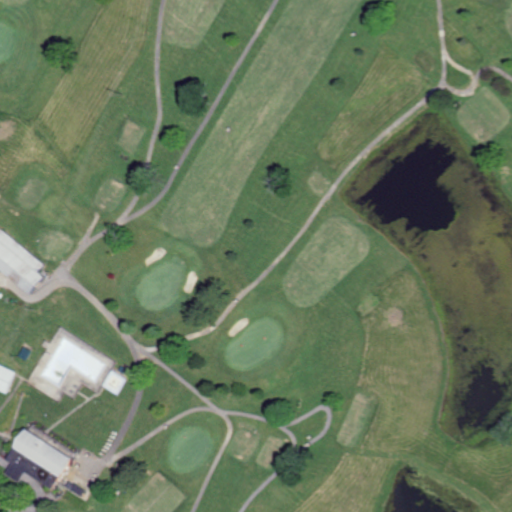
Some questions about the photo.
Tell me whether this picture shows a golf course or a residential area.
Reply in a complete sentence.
This looks like a golf course.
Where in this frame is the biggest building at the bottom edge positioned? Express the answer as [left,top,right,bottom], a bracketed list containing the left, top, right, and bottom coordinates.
[4,430,70,490]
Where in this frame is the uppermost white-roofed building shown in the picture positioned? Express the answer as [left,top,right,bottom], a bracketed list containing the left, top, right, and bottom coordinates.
[0,230,42,294]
